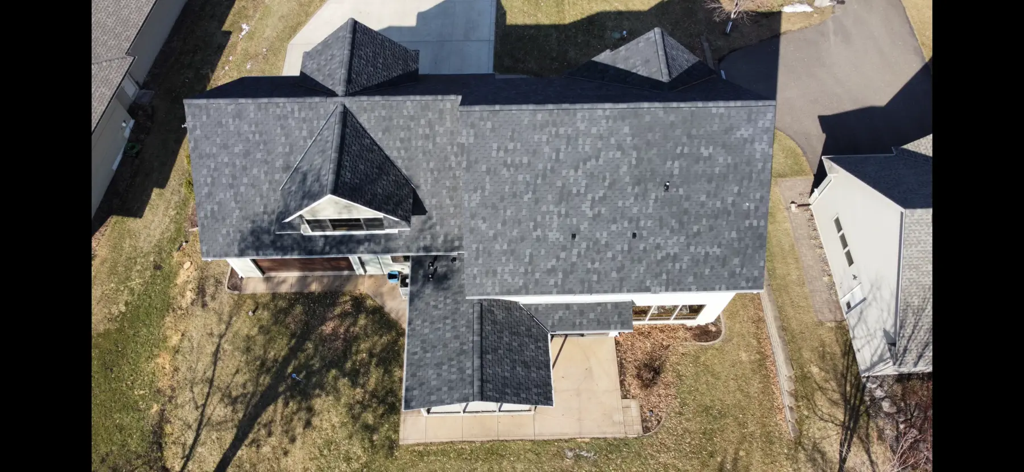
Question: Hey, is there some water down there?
No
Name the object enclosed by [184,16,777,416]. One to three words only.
house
